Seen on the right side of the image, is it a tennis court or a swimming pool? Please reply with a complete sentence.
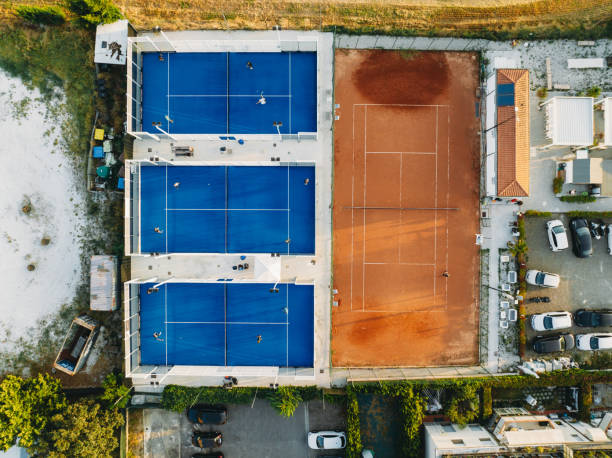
It is a tennis court that can be seen on the right side of the image.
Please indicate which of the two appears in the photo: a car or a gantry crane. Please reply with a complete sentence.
It is a car that can be seen here.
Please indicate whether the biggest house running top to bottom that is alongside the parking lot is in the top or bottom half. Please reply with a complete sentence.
The biggest house running top to bottom that is alongside the parking lot sits in the top half of the picture.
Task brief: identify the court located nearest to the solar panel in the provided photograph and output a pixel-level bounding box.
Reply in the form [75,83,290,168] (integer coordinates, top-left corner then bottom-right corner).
[331,49,481,368]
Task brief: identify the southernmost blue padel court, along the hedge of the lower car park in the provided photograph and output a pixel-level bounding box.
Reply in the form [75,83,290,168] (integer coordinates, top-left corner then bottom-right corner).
[124,277,317,380]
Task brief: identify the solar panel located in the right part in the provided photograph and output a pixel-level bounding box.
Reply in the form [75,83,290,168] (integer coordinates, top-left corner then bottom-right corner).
[498,81,515,107]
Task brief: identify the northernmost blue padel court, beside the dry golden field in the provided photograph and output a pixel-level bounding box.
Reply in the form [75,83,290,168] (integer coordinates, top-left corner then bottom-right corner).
[127,36,319,142]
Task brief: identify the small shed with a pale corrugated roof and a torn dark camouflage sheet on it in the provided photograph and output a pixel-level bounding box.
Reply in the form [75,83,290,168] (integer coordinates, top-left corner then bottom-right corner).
[94,20,137,71]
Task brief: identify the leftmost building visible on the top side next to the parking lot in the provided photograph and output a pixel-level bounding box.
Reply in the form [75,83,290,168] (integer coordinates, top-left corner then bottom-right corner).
[488,68,531,197]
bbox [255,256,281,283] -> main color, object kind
white umbrella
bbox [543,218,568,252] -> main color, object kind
white car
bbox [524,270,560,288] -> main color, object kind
white car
